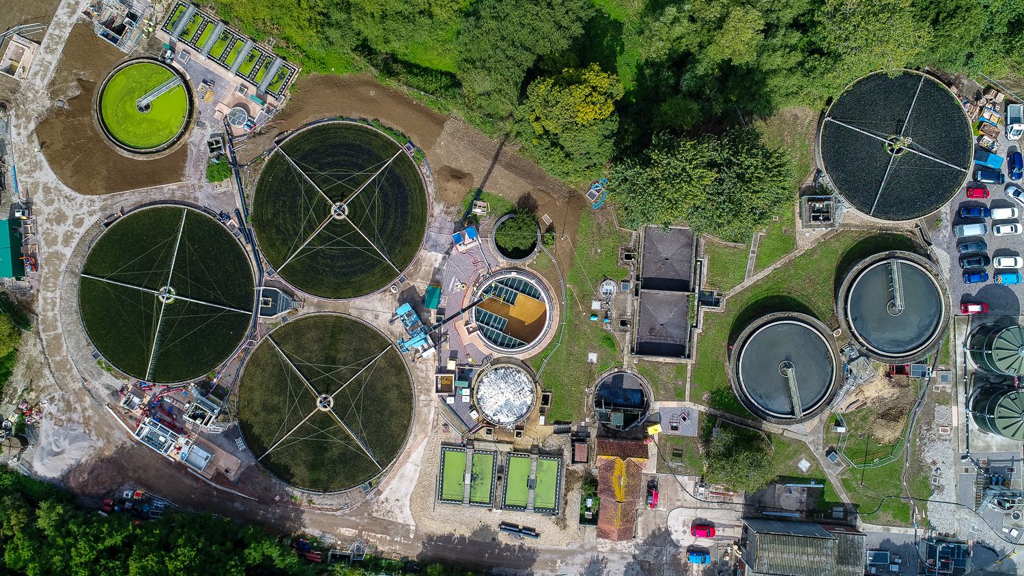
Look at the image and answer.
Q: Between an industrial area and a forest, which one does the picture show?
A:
industrial area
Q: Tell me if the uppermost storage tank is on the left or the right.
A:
left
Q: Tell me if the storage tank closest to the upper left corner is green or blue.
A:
green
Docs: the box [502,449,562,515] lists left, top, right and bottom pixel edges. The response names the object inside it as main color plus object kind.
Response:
green storage tank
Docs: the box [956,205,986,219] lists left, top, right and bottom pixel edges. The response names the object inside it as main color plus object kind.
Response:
blue car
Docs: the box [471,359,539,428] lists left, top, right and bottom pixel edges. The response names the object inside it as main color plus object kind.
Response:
white storage tank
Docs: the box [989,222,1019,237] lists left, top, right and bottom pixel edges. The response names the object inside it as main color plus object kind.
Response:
white car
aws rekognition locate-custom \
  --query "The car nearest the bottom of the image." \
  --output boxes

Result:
[685,549,708,565]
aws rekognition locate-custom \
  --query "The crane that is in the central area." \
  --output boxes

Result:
[389,290,511,362]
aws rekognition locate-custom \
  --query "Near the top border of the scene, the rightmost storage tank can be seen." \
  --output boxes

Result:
[160,0,302,98]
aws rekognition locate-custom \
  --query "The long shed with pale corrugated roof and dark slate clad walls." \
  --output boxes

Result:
[737,518,866,576]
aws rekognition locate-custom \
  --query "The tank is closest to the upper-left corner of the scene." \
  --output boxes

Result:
[94,53,201,160]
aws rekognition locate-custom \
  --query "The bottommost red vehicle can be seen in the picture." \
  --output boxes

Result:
[689,522,715,537]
